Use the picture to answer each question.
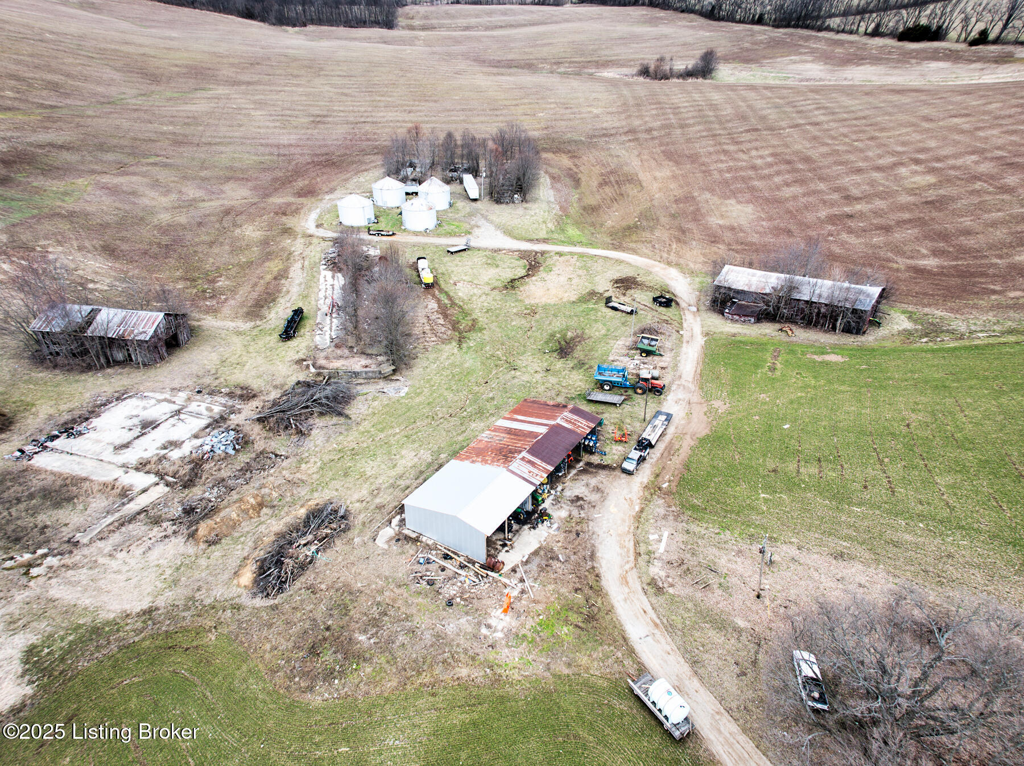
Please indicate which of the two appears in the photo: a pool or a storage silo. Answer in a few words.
storage silo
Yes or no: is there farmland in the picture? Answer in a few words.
Yes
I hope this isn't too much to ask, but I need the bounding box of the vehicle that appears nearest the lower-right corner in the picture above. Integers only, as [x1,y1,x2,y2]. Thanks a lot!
[794,653,828,710]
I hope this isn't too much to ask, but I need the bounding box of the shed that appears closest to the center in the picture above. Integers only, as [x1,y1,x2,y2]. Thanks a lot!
[405,396,599,561]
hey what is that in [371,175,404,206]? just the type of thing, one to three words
silo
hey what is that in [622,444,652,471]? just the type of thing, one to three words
truck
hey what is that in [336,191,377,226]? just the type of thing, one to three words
silo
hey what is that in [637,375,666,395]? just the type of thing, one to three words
work vehicle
